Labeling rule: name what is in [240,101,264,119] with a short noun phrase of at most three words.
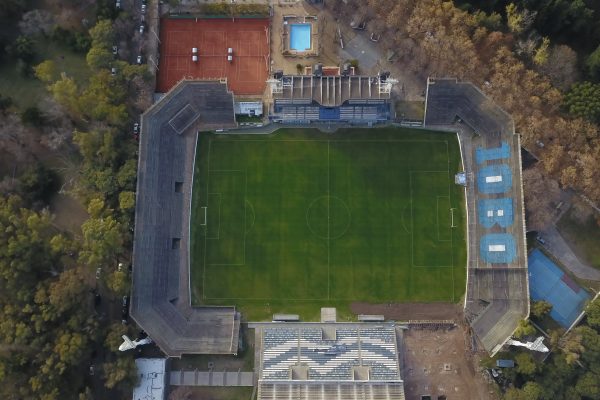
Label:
building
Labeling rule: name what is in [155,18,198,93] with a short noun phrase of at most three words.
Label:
tennis court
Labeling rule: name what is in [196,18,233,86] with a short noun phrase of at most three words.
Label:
tennis court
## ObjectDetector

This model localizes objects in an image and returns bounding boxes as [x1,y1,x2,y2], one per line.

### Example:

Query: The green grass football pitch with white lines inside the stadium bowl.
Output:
[191,128,466,322]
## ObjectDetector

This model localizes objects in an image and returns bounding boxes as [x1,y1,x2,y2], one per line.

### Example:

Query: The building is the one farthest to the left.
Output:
[131,355,171,400]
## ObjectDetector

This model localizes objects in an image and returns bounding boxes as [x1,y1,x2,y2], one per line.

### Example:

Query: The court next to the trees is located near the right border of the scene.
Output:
[529,247,591,328]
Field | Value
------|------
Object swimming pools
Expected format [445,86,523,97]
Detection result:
[288,22,313,54]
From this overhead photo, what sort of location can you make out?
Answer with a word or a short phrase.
sports ground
